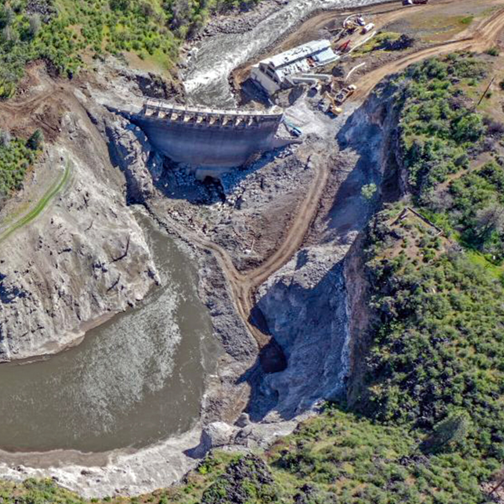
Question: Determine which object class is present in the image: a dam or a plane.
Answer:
dam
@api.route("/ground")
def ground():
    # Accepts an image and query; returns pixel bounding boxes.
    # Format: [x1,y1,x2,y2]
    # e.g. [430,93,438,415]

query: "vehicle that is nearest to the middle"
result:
[284,112,307,134]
